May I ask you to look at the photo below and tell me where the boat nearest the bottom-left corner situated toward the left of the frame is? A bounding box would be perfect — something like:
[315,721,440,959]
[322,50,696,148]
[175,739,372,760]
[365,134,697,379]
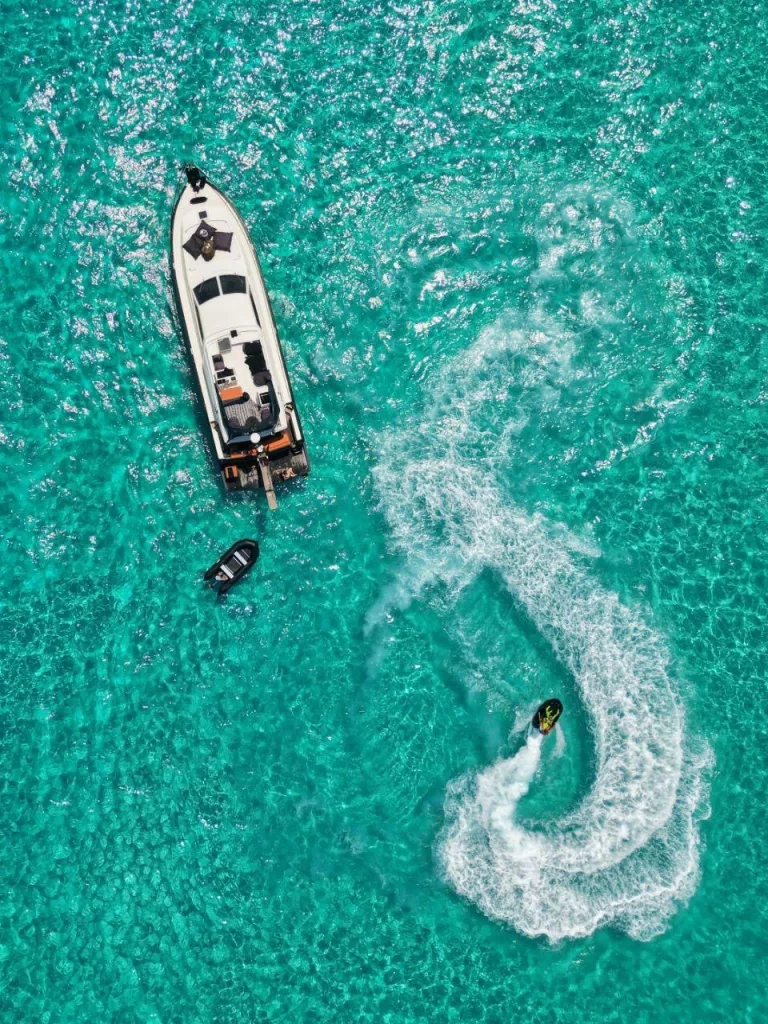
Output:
[204,540,258,594]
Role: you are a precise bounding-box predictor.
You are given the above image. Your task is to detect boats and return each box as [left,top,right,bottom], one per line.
[204,540,258,594]
[533,698,561,738]
[171,160,309,509]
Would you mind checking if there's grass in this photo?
No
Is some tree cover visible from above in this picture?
No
